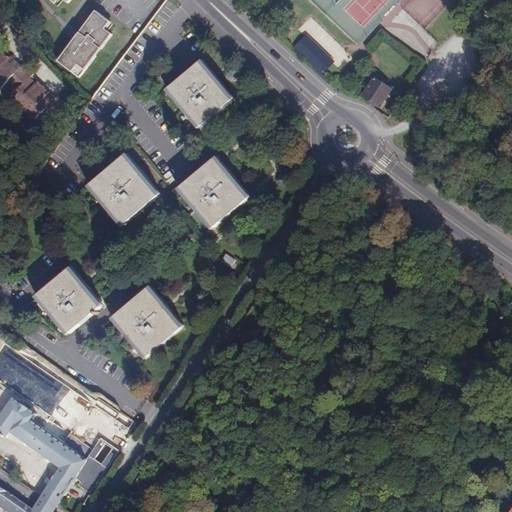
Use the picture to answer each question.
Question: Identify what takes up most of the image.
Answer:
trees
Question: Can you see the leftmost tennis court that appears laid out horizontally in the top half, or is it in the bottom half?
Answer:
top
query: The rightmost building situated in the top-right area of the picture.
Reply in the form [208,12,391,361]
[360,77,392,108]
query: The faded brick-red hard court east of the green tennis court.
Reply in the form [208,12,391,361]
[402,0,448,27]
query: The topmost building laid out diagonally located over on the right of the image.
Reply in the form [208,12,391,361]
[294,32,334,73]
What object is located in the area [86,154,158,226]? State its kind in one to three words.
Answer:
building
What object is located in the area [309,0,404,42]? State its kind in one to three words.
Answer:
tennis court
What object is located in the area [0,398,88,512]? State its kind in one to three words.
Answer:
building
